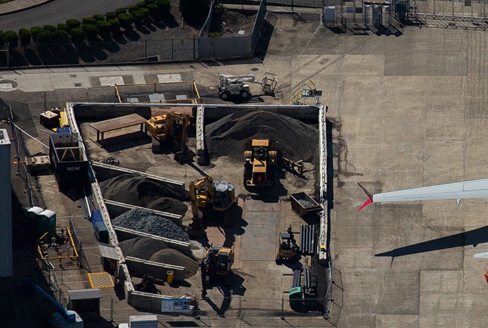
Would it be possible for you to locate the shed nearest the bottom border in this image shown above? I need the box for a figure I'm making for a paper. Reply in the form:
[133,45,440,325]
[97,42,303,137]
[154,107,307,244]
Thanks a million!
[68,294,102,326]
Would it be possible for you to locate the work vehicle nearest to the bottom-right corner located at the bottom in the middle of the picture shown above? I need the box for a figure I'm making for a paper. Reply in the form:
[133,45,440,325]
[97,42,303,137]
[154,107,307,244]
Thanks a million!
[275,230,298,267]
